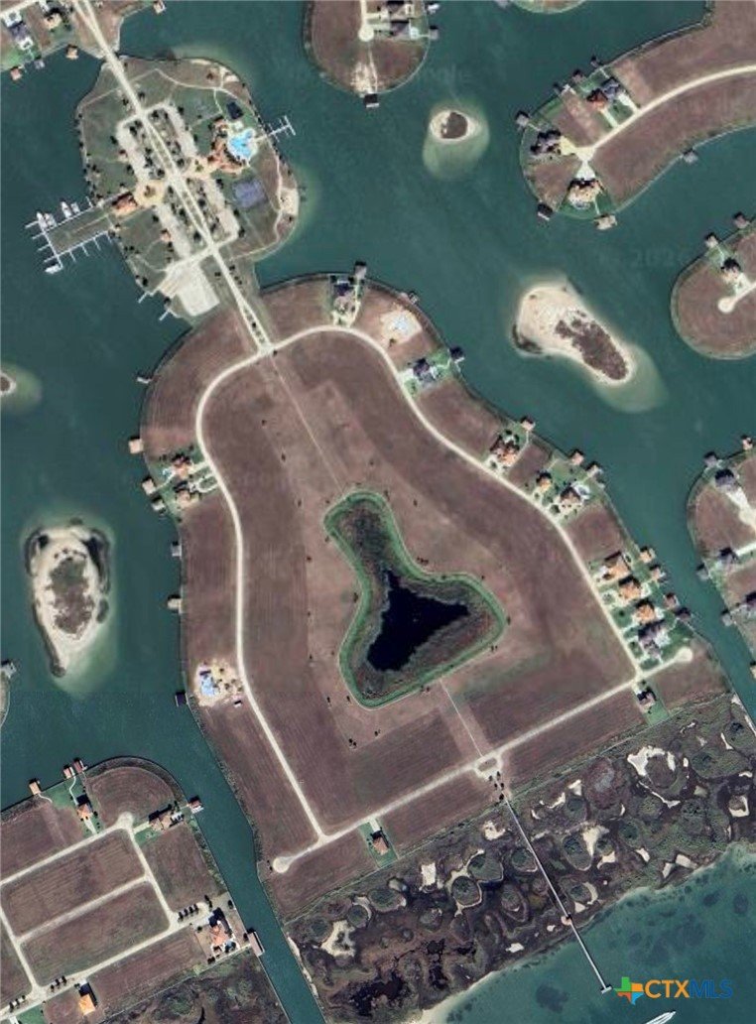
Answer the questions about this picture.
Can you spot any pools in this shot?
Yes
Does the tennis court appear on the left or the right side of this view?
left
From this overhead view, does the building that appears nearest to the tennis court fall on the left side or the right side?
left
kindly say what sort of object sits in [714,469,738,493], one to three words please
house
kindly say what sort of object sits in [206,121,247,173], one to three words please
building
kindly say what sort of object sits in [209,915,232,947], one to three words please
house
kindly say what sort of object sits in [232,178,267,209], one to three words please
tennis court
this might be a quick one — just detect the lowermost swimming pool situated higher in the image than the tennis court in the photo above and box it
[227,126,258,163]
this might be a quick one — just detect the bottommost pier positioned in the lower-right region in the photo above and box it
[502,799,612,993]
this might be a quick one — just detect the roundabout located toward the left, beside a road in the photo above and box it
[135,177,165,206]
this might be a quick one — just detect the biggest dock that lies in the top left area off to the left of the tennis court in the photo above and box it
[26,196,112,268]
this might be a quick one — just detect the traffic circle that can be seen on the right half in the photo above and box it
[468,751,504,782]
